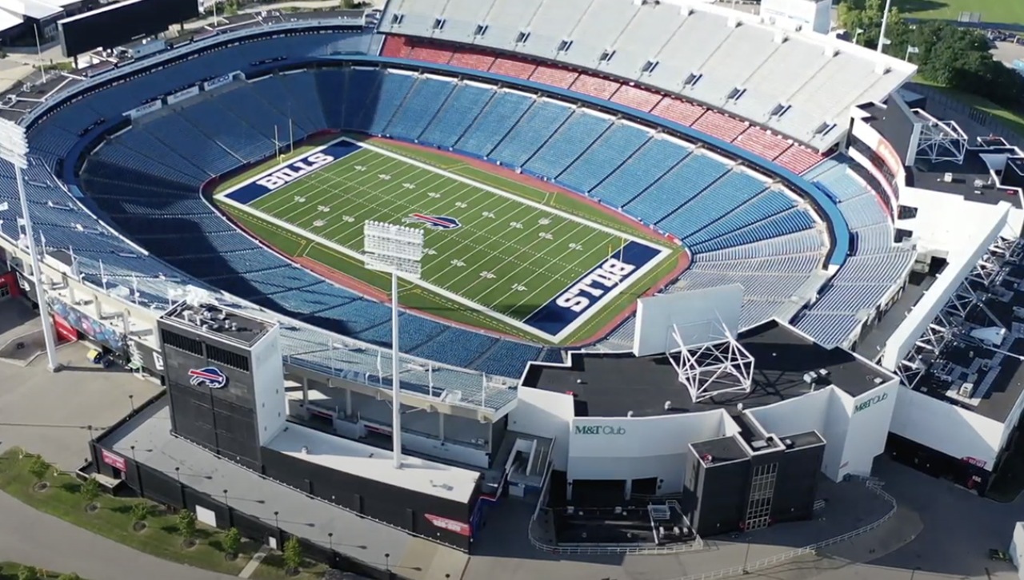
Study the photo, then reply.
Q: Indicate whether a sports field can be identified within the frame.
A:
Yes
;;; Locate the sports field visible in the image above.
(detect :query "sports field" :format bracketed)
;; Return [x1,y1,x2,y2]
[208,133,674,344]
